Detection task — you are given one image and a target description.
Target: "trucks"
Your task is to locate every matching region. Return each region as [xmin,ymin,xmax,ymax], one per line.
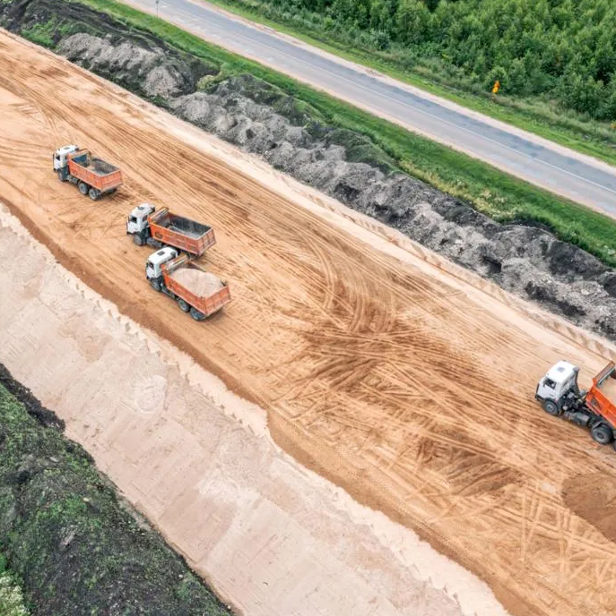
[534,352,616,445]
[141,239,236,319]
[123,199,214,261]
[49,139,123,199]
